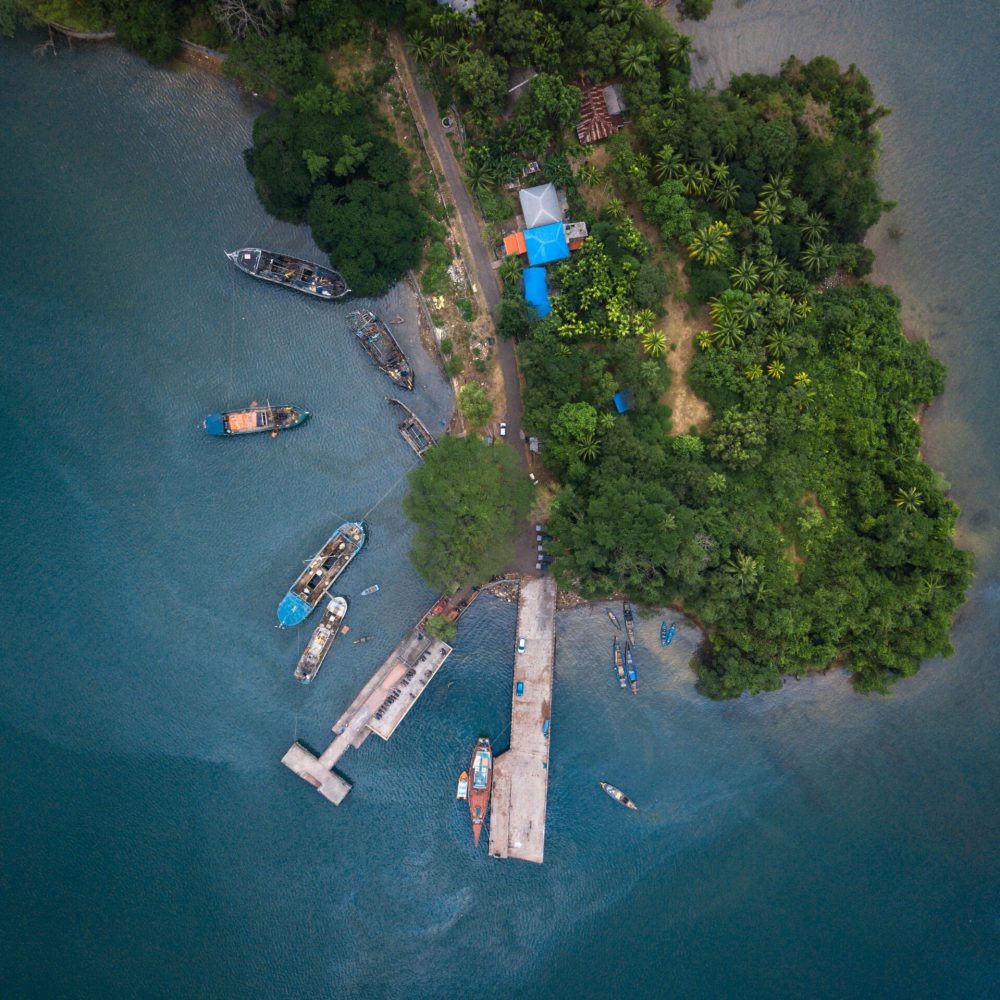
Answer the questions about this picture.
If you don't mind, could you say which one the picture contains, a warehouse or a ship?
ship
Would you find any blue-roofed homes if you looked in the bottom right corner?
No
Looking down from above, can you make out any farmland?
No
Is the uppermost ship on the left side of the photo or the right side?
left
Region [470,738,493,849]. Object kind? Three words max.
ship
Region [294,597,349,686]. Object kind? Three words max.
boat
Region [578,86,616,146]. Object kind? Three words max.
house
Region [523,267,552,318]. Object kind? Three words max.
shed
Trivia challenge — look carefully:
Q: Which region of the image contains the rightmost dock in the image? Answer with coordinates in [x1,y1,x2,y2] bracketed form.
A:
[489,576,557,862]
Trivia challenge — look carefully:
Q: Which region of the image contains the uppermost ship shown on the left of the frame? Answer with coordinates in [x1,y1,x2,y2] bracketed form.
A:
[224,249,351,300]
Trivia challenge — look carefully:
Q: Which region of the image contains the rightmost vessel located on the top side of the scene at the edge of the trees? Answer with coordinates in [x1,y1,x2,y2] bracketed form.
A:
[351,306,413,390]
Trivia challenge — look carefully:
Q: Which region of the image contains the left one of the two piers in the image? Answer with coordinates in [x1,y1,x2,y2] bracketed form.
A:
[281,583,483,805]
